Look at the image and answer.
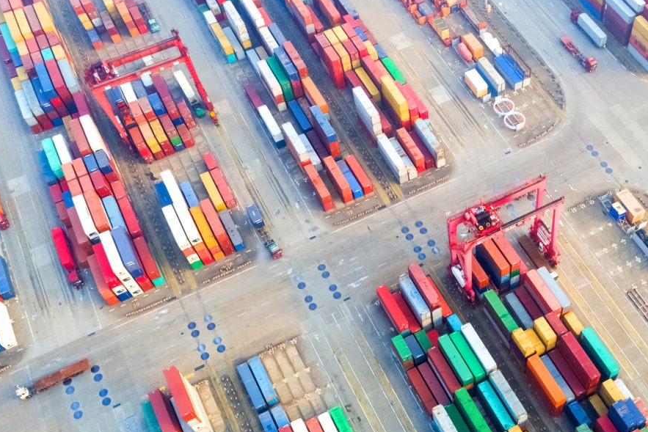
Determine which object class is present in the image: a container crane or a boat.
container crane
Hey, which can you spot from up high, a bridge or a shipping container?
shipping container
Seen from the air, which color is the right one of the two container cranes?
red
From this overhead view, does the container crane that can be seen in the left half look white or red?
red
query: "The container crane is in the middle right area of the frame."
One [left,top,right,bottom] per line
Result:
[442,168,565,308]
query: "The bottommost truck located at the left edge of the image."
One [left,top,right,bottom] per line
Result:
[17,360,94,404]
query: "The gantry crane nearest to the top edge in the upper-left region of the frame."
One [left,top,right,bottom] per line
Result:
[76,27,222,160]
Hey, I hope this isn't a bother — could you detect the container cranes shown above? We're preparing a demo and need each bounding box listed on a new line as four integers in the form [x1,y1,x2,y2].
[76,27,222,160]
[442,168,565,308]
